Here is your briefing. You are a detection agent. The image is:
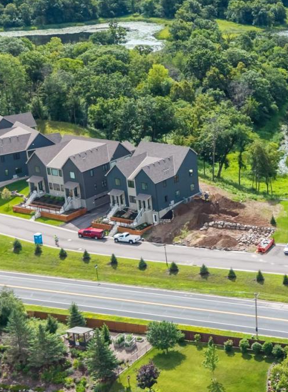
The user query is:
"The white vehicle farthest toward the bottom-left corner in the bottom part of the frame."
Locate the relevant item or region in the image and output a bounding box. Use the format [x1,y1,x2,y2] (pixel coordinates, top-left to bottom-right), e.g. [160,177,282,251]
[113,232,143,245]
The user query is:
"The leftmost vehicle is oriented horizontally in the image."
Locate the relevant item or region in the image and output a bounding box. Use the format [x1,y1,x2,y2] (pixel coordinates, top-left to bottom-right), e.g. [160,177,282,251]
[78,227,109,240]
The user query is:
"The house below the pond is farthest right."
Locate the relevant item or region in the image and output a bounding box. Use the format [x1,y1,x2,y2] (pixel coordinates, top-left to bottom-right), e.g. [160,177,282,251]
[91,144,203,224]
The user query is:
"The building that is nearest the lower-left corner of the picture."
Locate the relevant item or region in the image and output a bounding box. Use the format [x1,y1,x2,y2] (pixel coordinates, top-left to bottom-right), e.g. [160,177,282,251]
[62,327,91,351]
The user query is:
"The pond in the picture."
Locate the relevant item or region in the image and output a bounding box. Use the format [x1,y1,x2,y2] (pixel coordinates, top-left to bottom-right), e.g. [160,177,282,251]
[8,21,161,50]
